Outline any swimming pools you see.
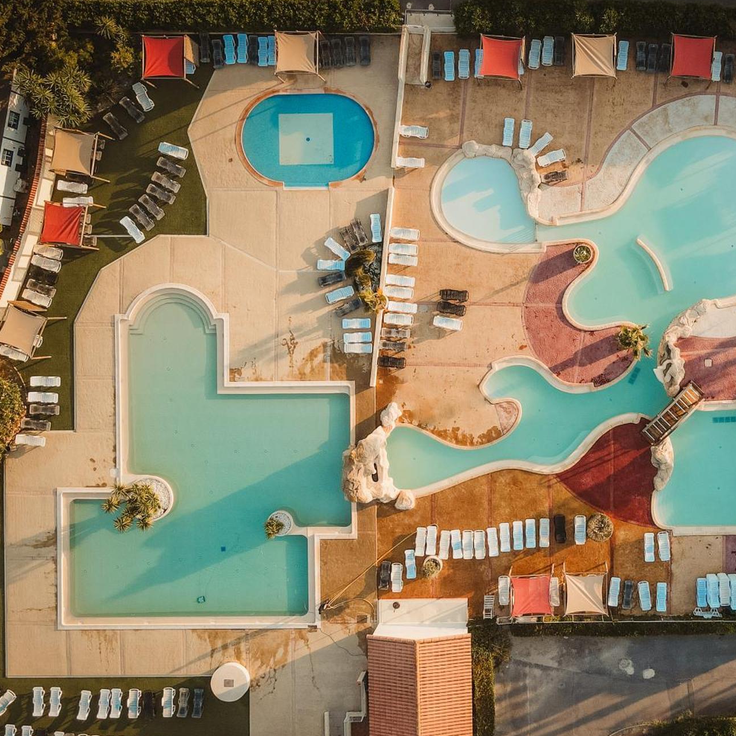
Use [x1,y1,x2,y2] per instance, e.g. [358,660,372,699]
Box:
[238,88,379,188]
[381,124,736,534]
[57,283,356,629]
[431,149,547,252]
